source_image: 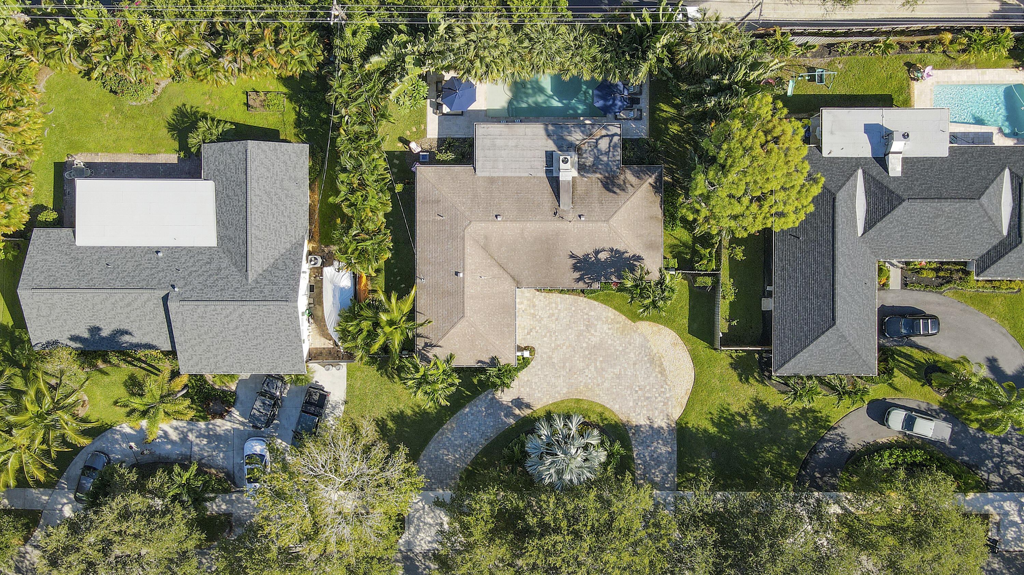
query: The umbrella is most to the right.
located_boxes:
[592,79,629,116]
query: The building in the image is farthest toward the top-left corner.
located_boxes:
[18,139,311,376]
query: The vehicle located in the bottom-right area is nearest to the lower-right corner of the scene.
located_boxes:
[880,407,955,445]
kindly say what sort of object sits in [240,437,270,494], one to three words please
car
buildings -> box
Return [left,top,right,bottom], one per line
[767,106,1024,378]
[18,139,311,376]
[414,121,665,368]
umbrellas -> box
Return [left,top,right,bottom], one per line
[440,76,476,111]
[592,79,629,116]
